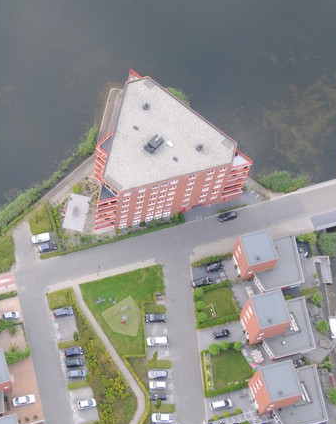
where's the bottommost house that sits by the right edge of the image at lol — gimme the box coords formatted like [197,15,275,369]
[251,359,329,424]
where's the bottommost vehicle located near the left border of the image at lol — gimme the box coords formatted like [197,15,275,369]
[10,394,38,407]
